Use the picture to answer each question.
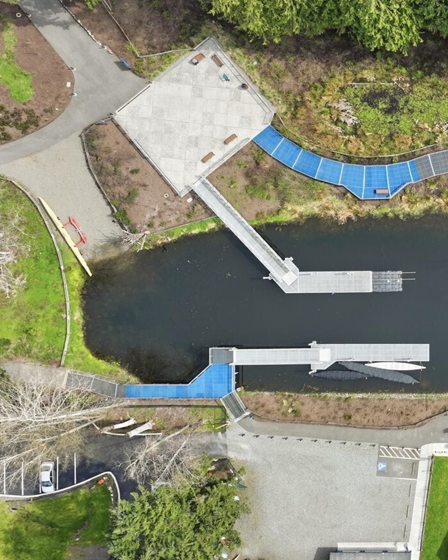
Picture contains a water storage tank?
No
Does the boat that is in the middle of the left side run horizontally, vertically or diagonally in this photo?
diagonally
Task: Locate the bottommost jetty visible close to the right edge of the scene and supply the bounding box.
[310,343,429,369]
